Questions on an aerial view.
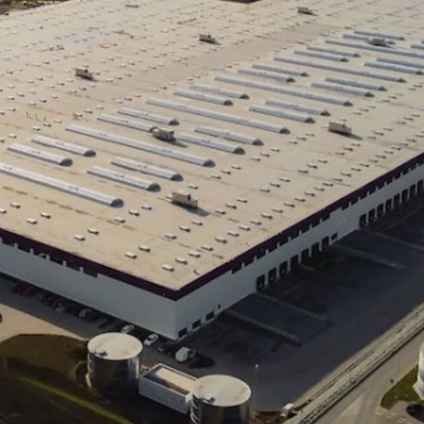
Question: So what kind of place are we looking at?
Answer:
industrial area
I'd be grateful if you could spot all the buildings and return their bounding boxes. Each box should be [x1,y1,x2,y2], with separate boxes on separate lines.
[138,361,198,415]
[0,0,424,339]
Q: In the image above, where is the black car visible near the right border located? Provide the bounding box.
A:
[406,399,424,415]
